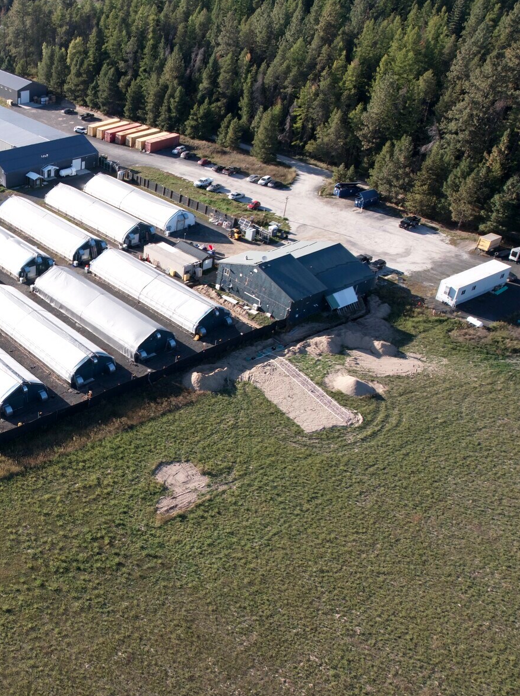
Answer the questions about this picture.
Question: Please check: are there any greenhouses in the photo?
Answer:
Yes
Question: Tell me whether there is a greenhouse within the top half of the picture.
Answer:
Yes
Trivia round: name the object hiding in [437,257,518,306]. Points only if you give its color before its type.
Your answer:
white trailer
